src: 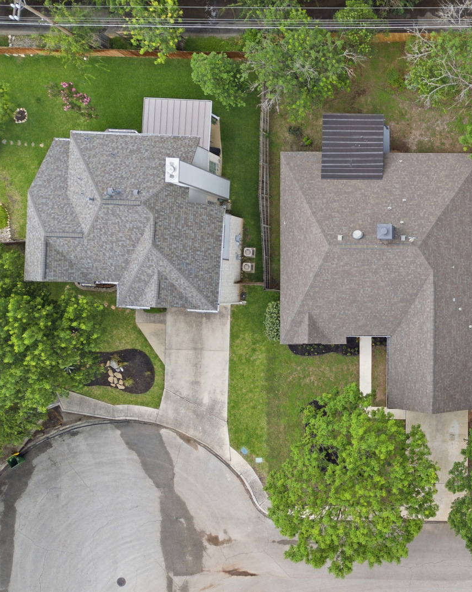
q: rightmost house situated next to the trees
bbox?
[279,151,472,414]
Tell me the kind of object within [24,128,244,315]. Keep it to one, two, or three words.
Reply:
house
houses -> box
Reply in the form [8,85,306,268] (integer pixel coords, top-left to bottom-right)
[24,128,244,315]
[279,151,472,414]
